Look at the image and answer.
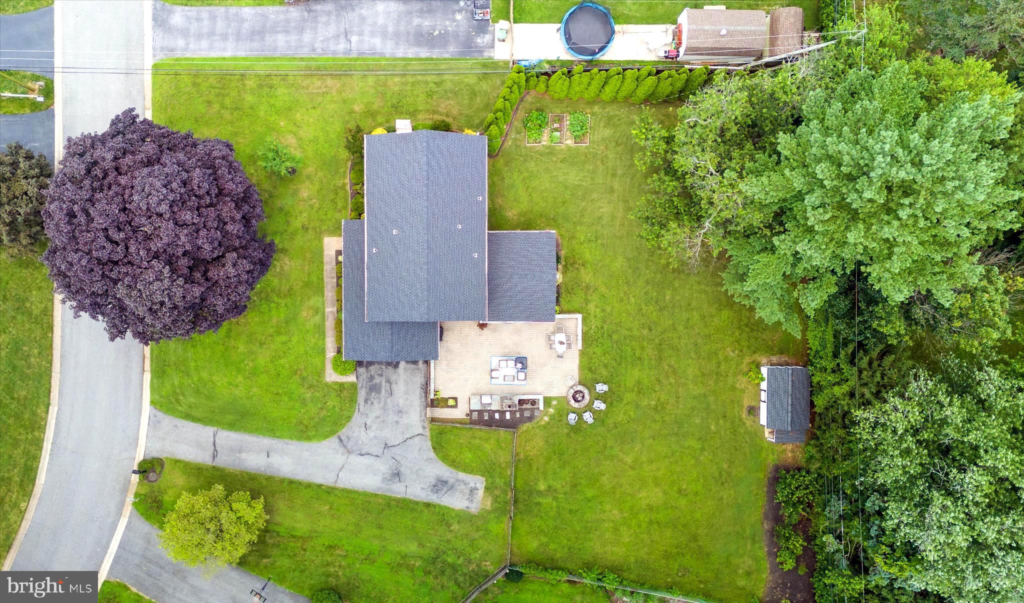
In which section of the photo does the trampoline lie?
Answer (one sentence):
The trampoline appears toward the top of the photo.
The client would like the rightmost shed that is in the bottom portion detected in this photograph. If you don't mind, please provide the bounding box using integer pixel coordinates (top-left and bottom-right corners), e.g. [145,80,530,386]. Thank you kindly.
[760,366,810,442]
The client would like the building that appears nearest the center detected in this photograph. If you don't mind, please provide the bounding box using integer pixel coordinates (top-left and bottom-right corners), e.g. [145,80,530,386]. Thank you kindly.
[341,119,557,362]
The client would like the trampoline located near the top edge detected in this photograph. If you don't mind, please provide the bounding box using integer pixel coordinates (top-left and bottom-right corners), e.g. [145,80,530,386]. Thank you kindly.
[553,0,616,58]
